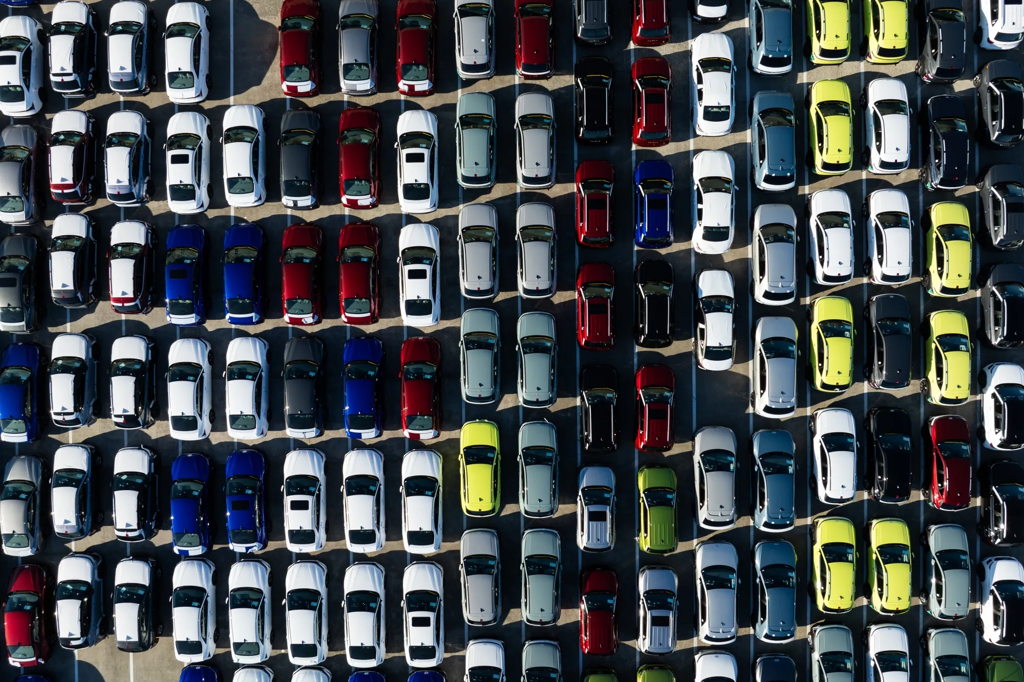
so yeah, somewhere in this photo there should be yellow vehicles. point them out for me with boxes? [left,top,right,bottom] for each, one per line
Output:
[805,79,856,175]
[808,517,859,613]
[803,0,854,66]
[459,421,502,516]
[863,518,915,614]
[806,297,856,392]
[920,310,974,405]
[921,201,975,296]
[859,0,912,66]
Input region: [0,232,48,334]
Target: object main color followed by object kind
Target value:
black car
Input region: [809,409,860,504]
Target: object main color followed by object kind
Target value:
white car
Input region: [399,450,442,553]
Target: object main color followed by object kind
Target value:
white car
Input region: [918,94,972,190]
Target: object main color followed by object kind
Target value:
black car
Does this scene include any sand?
No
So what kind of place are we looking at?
parking lot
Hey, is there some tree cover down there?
No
